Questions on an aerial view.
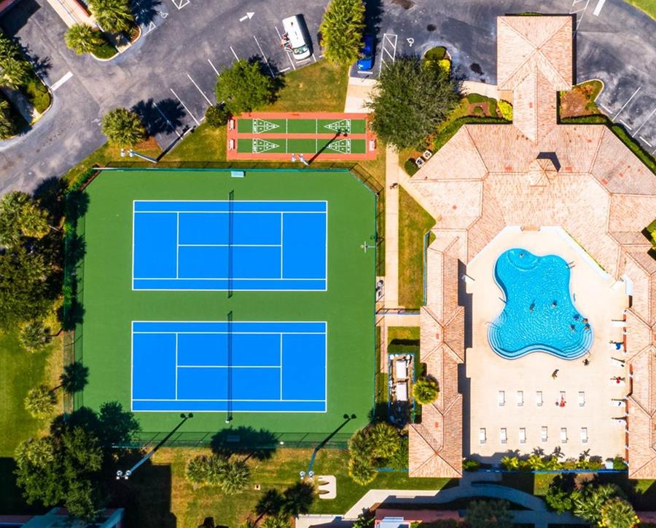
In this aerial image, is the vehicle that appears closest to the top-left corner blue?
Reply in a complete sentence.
No, the vehicle that appears closest to the top-left corner is actually white.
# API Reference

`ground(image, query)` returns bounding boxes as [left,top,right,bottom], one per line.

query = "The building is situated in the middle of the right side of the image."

[409,15,656,479]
